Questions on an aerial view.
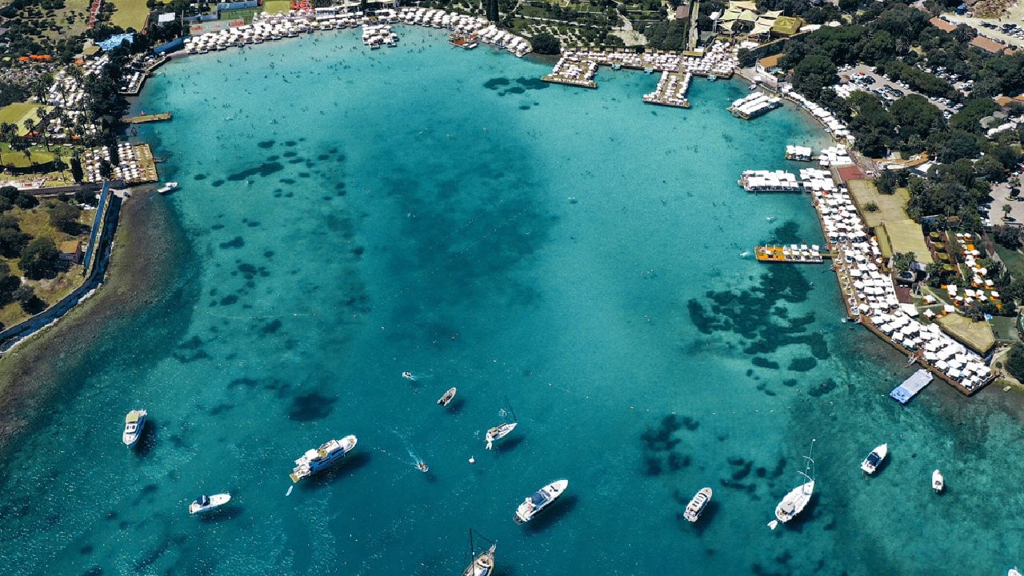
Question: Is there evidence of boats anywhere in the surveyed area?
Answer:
Yes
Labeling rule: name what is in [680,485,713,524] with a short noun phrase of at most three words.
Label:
boat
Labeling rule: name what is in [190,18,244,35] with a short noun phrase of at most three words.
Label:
basketball court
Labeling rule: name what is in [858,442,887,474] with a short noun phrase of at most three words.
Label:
boat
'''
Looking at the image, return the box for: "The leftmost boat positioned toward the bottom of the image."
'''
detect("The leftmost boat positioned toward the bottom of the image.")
[125,407,148,442]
